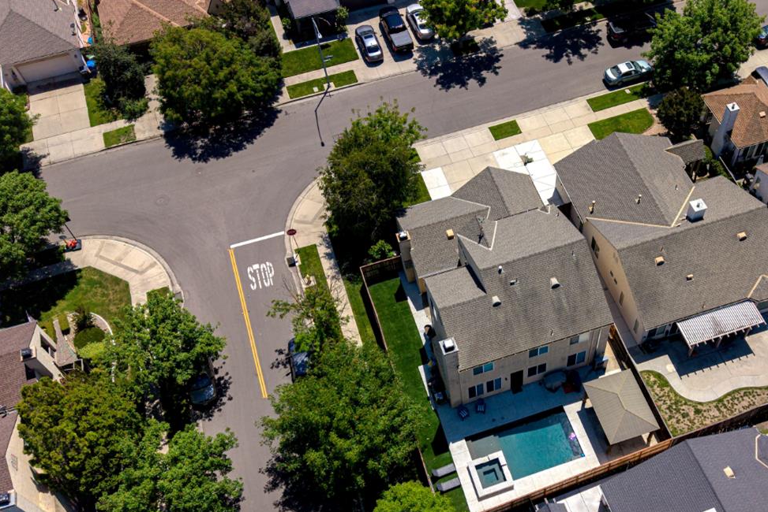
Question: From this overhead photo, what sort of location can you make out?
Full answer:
The area seen from above is a residential area.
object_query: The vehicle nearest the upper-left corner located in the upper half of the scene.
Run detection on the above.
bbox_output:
[355,27,383,59]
